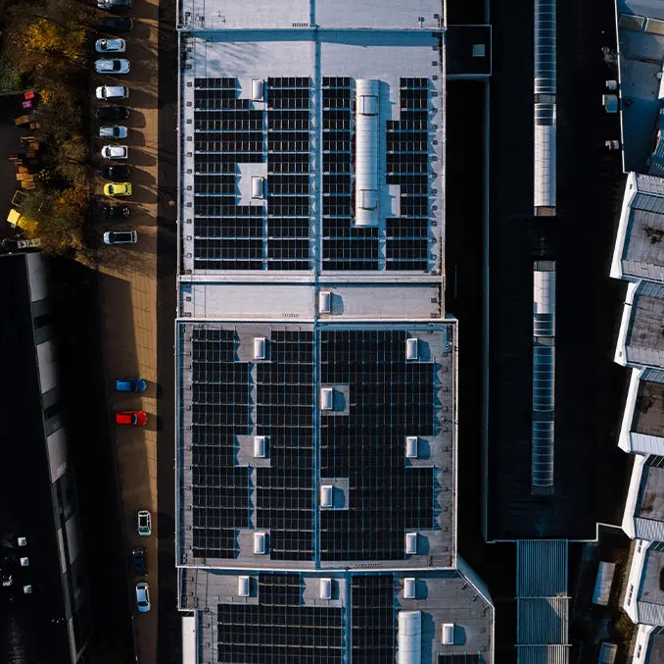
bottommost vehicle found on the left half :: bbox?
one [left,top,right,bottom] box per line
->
[134,577,152,612]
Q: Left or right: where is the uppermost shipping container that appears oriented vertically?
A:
right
